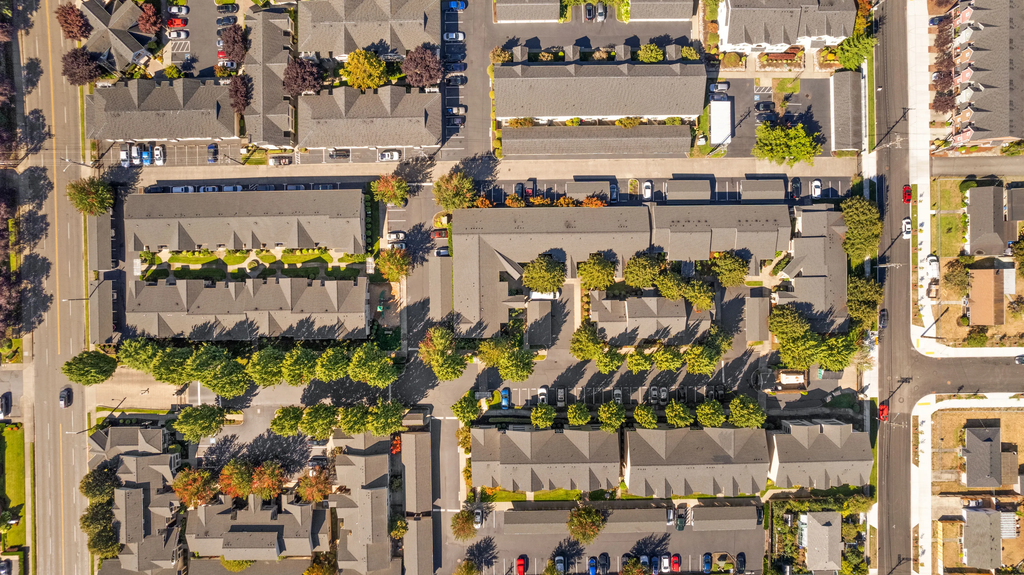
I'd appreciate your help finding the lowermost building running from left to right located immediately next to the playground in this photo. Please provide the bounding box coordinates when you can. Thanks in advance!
[123,277,370,340]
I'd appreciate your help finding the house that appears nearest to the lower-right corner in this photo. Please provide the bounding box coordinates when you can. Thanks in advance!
[958,508,1002,571]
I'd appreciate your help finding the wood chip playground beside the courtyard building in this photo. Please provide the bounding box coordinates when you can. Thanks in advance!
[369,283,400,327]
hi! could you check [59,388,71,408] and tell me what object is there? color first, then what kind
gray vehicle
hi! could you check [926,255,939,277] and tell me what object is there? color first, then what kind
white vehicle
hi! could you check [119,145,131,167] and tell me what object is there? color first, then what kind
gray vehicle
